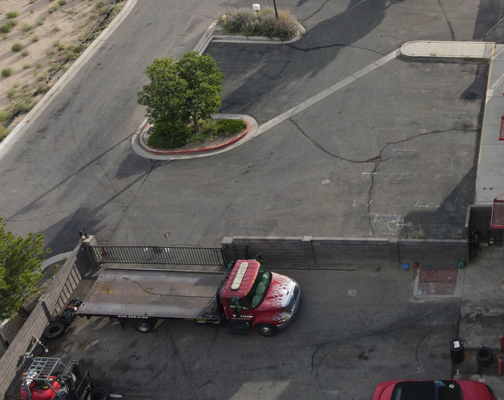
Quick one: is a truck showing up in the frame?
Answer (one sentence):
Yes, a truck appears in the view.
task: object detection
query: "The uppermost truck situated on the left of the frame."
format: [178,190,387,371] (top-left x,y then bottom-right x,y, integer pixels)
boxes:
[77,258,303,337]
